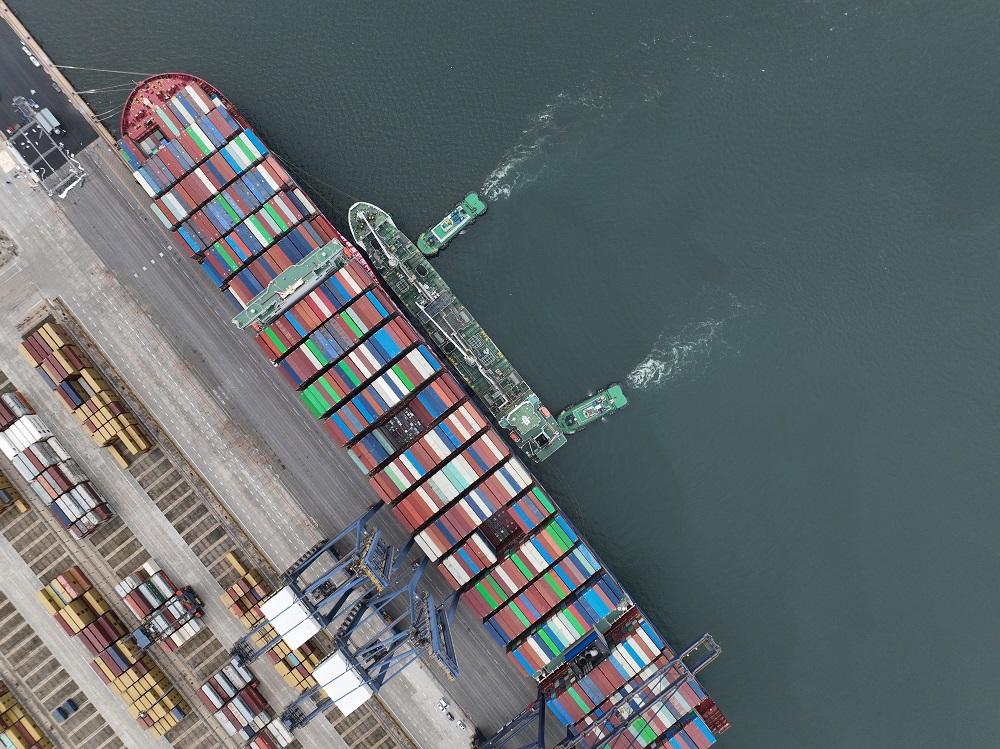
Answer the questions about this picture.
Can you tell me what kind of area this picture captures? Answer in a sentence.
The area seen from above is a port.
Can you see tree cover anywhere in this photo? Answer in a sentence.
No, the scene doesn't show any tree cover.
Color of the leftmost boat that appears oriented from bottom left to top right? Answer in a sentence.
From above, the leftmost boat that appears oriented from bottom left to top right appears green.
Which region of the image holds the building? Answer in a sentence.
The building is located in the top left region of the scene.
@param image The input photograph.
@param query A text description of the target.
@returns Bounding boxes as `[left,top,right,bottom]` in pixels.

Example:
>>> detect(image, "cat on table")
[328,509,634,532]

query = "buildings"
[34,106,65,137]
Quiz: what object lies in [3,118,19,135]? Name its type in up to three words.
vehicle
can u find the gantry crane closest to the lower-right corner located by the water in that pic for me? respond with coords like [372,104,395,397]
[464,632,720,749]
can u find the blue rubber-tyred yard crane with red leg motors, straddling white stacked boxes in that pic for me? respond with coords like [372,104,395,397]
[115,591,196,660]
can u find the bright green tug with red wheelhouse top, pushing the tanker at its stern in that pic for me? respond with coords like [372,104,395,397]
[555,381,630,434]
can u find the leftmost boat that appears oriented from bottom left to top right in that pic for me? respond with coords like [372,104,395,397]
[417,191,485,256]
